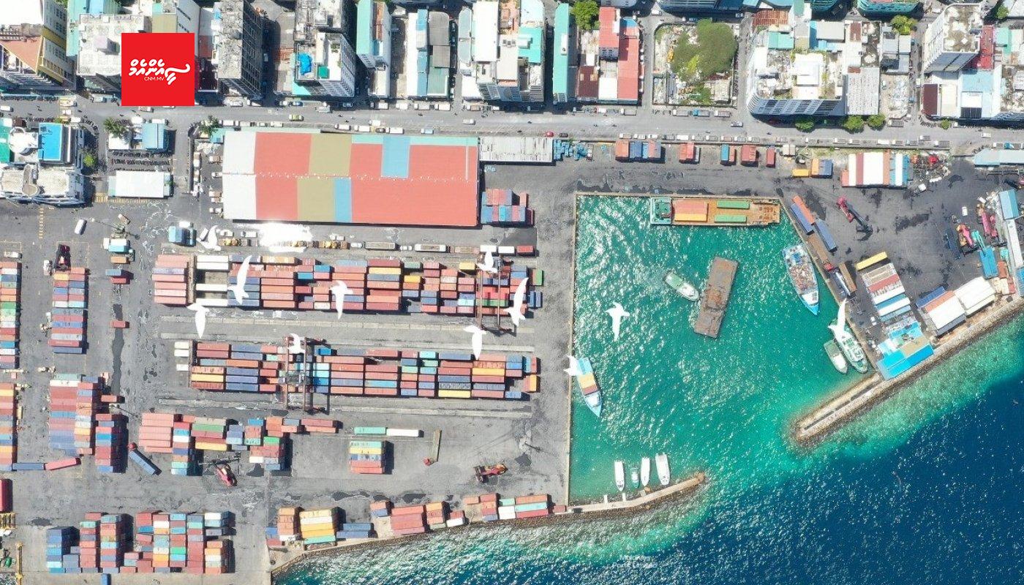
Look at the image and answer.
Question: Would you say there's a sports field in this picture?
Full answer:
No, the scene contains no sports field.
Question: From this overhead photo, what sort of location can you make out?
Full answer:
It's a port.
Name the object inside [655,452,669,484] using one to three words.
boat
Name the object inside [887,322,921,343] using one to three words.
shed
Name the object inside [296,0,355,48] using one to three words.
building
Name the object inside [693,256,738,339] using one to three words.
ship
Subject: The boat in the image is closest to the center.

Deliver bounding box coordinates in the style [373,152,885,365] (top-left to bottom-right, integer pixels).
[577,356,601,418]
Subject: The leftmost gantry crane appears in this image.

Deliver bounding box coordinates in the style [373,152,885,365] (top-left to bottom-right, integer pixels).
[286,337,322,413]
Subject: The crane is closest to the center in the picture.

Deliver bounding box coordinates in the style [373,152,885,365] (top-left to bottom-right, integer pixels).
[480,246,508,338]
